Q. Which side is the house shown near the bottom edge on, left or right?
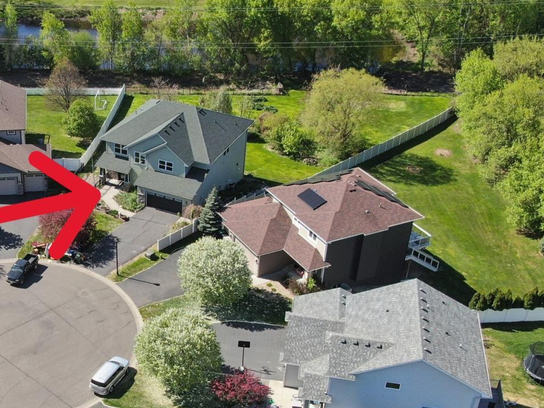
right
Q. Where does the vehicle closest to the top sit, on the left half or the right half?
left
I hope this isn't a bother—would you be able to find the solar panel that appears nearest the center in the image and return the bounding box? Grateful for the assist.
[297,188,326,210]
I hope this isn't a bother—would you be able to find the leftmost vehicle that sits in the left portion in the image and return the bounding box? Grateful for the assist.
[5,248,44,284]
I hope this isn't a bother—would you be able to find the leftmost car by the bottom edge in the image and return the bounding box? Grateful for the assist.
[86,356,138,398]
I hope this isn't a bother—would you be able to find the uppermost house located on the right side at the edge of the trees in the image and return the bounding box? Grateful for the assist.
[218,165,454,286]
